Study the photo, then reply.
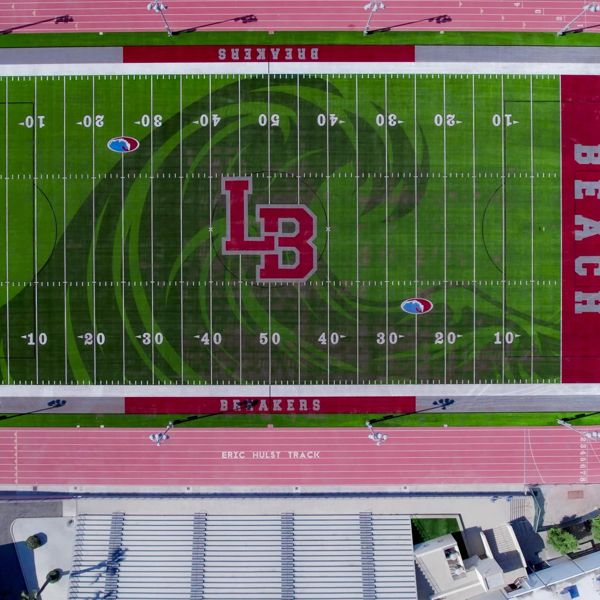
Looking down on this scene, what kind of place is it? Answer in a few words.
sports ground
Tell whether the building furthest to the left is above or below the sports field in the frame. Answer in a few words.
below it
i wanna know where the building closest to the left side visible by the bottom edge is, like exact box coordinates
[412,534,481,600]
